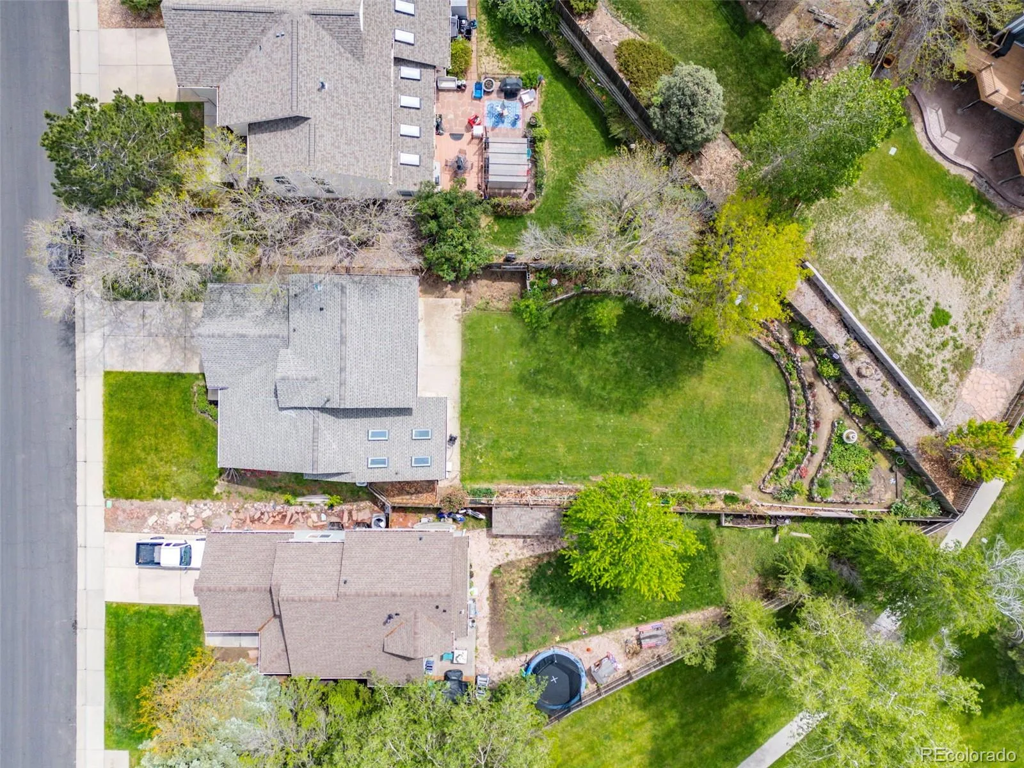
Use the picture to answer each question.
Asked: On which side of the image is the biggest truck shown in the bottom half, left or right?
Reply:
left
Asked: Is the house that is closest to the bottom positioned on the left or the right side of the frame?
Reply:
left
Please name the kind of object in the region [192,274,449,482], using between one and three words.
house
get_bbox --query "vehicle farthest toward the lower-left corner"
[136,533,206,567]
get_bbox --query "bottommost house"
[192,527,471,688]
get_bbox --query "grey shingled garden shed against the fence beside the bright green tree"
[492,503,564,536]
